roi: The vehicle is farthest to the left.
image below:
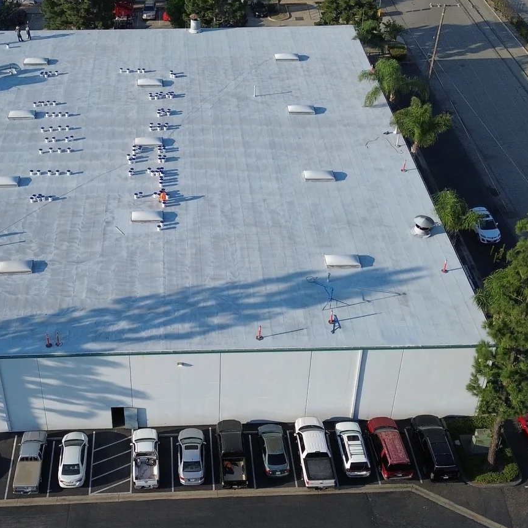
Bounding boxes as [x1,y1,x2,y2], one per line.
[13,429,49,494]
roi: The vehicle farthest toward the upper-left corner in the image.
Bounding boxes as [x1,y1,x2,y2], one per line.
[113,0,133,29]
